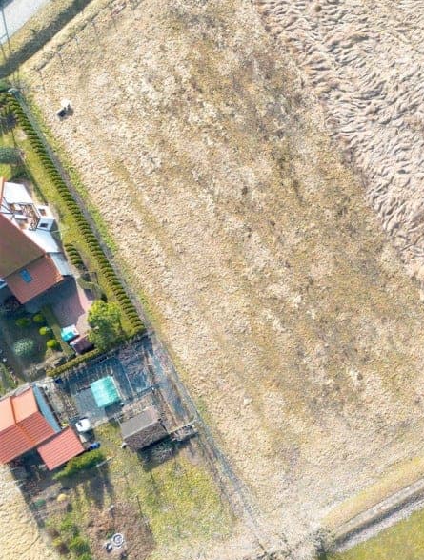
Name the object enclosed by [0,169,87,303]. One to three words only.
house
